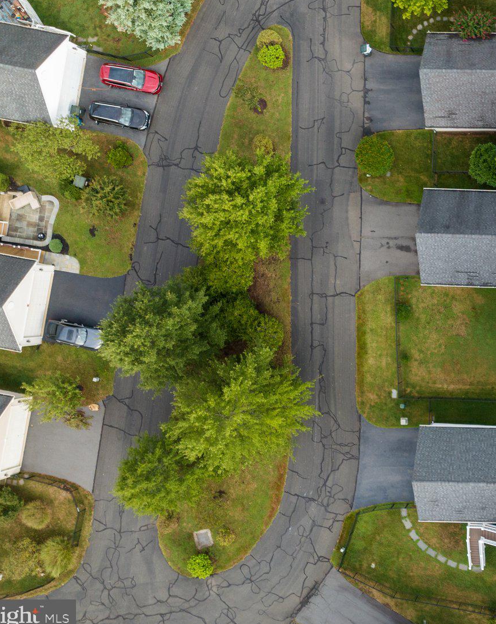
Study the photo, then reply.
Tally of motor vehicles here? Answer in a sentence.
The picture shows 3 motor vehicles.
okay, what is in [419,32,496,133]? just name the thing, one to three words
building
